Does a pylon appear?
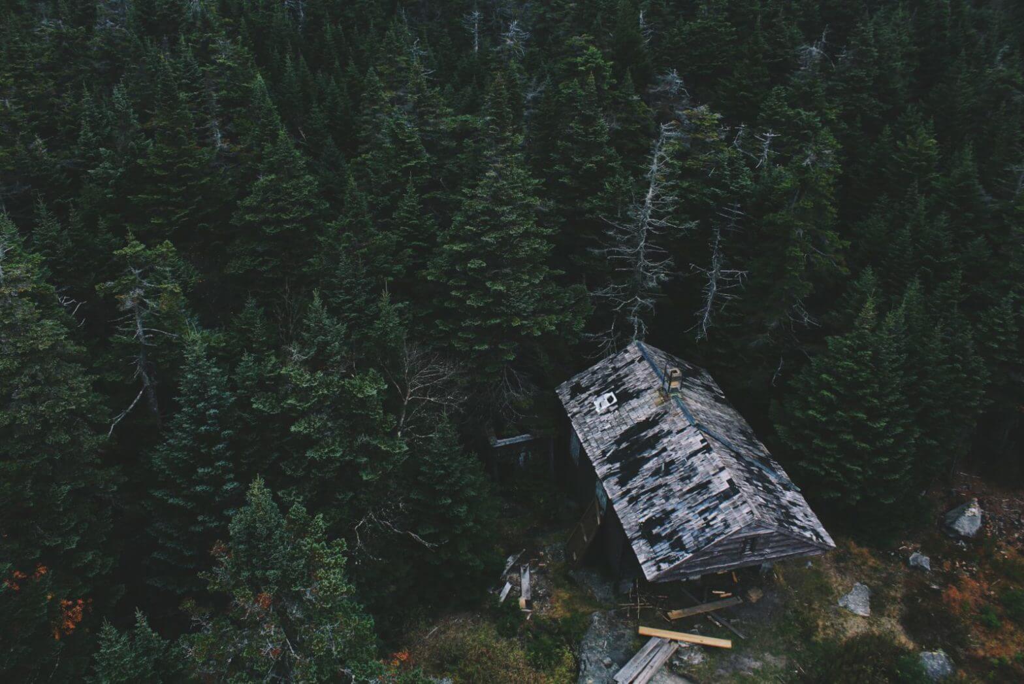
No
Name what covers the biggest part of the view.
trees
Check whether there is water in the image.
No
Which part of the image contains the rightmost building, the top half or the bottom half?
bottom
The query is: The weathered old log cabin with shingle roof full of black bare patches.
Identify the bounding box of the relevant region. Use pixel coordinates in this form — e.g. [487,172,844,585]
[557,341,839,619]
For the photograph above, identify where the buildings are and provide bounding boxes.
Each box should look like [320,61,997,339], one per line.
[483,416,554,497]
[557,341,839,619]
